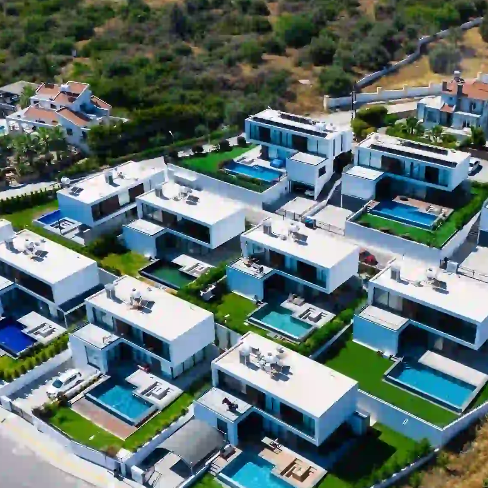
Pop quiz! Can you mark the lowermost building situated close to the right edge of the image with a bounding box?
[349,259,488,355]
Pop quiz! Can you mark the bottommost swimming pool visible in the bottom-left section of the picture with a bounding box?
[79,368,184,431]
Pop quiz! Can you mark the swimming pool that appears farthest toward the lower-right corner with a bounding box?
[379,350,488,416]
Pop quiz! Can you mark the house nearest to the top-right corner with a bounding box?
[412,78,488,132]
